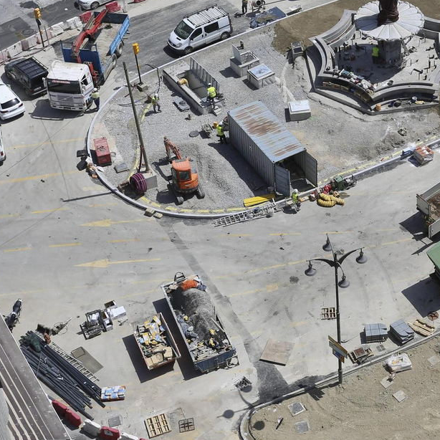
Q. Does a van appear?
Yes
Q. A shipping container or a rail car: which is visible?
shipping container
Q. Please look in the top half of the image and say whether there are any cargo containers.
Yes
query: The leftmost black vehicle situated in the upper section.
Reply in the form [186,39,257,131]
[2,58,46,101]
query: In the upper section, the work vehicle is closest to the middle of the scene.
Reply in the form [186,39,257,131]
[165,128,204,204]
